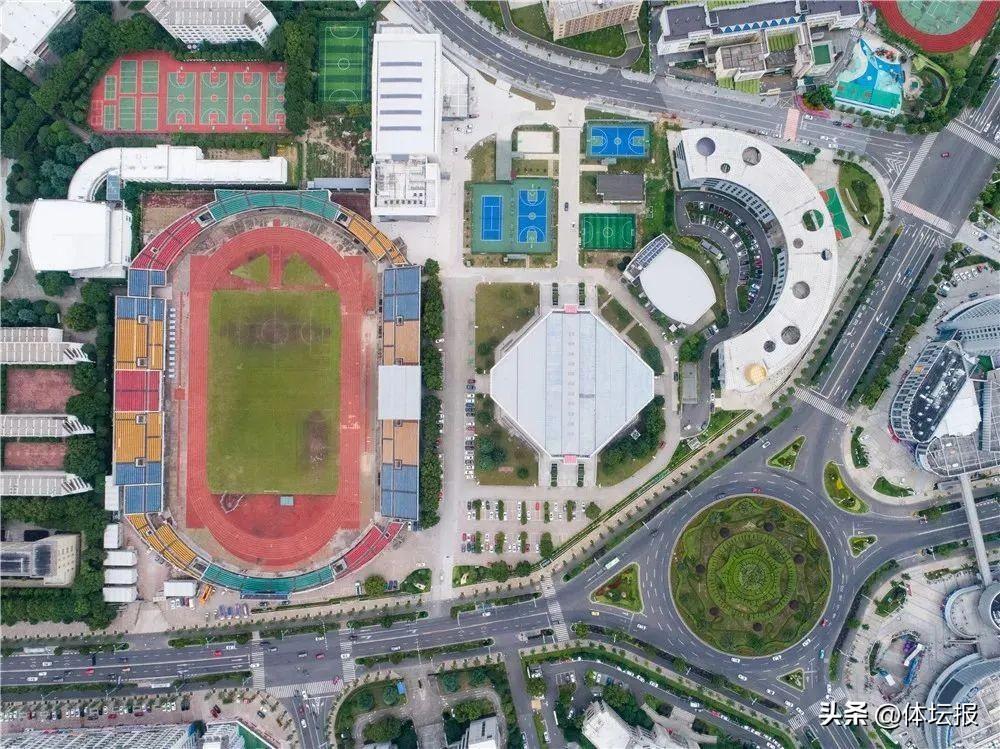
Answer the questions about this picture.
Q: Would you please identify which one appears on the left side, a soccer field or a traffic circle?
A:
soccer field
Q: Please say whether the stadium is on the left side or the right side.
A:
left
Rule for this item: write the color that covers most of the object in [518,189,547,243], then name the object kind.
blue basketball court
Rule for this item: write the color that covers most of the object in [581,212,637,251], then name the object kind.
green sports field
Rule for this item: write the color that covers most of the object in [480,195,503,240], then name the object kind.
blue tennis court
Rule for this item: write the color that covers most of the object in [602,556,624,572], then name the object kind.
white vehicle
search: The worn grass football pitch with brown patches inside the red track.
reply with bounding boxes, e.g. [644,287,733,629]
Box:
[207,290,341,494]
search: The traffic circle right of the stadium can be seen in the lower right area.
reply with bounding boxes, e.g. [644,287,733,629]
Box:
[670,494,833,658]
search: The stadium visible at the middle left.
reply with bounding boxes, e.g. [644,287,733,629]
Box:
[112,188,424,600]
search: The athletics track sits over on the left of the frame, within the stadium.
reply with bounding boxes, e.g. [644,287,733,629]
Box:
[175,218,363,566]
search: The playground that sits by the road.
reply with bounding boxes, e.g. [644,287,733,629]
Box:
[838,34,904,116]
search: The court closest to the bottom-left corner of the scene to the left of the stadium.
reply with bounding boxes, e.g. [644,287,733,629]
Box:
[5,442,63,467]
